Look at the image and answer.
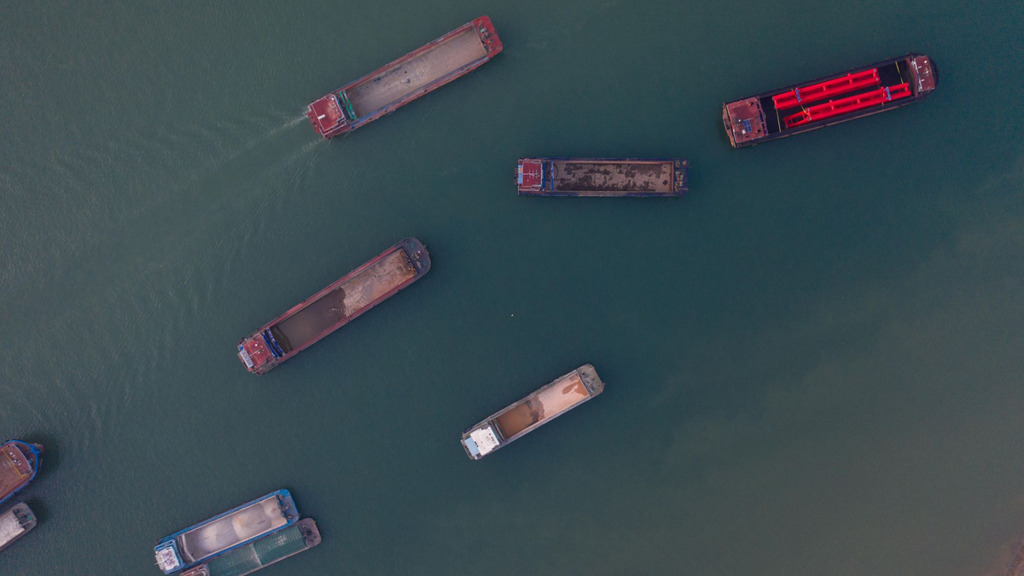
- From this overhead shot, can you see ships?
Yes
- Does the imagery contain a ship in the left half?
Yes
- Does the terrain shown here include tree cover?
No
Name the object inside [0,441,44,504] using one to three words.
ship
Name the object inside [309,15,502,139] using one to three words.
ship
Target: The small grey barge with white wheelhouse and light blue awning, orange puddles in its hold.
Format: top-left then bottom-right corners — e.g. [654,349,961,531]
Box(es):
[460,364,607,460]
